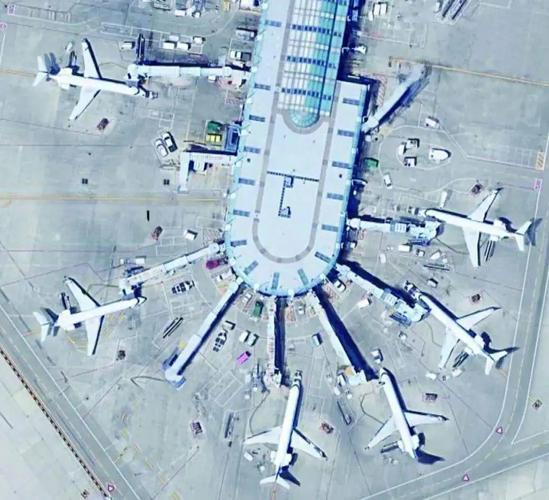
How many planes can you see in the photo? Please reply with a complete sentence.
The count of planes comes to 6.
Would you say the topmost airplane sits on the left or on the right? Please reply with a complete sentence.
It is on the left.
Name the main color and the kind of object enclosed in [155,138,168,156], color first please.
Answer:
white vehicle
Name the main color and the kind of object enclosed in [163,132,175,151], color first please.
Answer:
white vehicle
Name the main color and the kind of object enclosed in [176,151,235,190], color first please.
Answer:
white jet bridge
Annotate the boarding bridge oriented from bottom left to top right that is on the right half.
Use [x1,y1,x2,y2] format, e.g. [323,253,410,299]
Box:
[360,62,426,133]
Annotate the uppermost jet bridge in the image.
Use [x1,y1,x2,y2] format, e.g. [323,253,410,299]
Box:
[127,59,250,78]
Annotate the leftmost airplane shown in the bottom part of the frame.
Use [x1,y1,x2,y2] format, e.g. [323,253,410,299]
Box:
[31,277,138,356]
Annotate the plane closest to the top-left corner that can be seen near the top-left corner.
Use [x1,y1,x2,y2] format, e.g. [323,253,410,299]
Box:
[32,39,139,120]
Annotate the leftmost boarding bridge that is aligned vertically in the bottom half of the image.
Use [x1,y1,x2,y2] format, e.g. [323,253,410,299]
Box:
[265,294,284,389]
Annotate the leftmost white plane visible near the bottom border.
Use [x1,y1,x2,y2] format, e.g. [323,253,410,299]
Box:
[244,377,324,485]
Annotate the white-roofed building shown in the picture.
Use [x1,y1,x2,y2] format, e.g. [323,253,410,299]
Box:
[225,0,367,296]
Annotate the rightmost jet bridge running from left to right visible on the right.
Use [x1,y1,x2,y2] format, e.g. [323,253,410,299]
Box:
[346,217,439,244]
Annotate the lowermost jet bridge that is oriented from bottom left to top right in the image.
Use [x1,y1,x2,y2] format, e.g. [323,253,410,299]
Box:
[165,279,244,386]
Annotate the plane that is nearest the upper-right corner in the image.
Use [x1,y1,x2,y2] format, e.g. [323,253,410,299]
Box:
[425,187,532,267]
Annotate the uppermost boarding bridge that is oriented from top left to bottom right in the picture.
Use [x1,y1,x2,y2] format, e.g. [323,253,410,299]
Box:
[333,260,427,326]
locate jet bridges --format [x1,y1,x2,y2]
[360,62,426,133]
[333,260,427,326]
[176,151,235,190]
[165,279,244,386]
[127,59,250,78]
[118,243,226,294]
[265,294,284,389]
[307,287,365,386]
[346,217,439,244]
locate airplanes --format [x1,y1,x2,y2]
[365,369,443,475]
[31,277,138,356]
[244,377,324,485]
[32,39,139,120]
[425,187,532,267]
[416,293,507,375]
